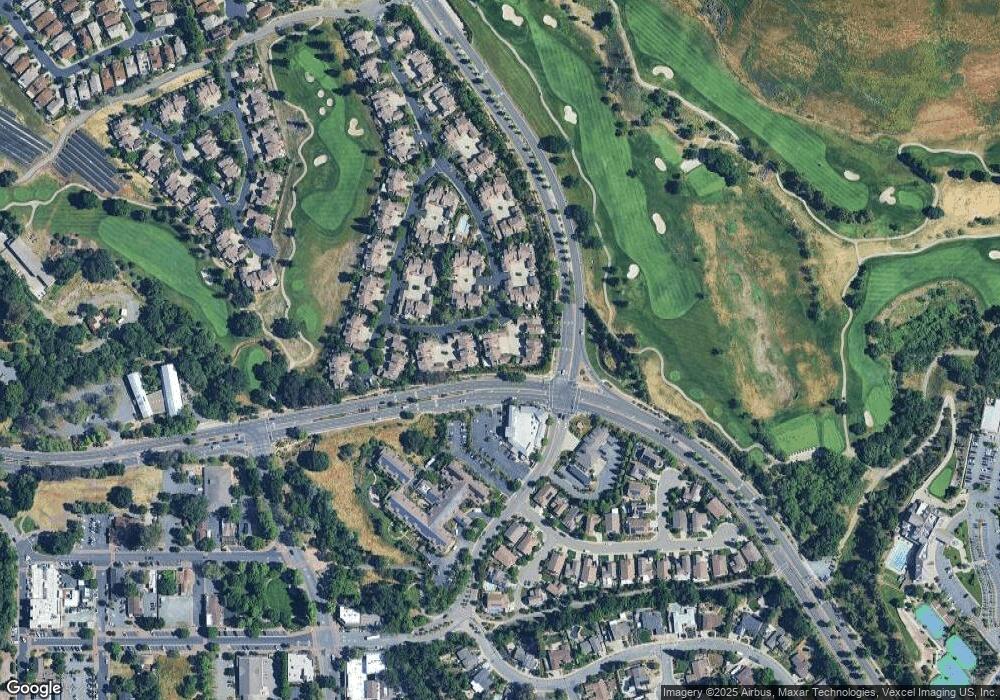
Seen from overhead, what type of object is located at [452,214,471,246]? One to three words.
swimming pool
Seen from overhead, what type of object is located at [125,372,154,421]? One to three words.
building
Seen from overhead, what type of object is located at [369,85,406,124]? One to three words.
house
